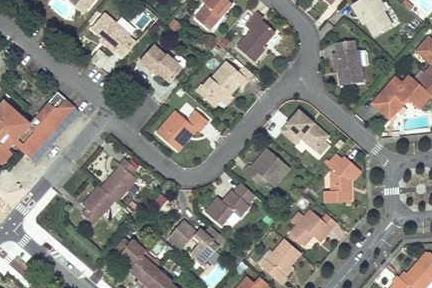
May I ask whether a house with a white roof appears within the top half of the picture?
Yes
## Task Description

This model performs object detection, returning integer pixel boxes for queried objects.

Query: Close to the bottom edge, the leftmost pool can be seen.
[204,264,225,288]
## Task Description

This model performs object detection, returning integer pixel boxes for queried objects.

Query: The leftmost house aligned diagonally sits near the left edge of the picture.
[18,100,76,162]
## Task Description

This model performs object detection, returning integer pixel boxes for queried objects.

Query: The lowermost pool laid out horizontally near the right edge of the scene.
[404,116,430,130]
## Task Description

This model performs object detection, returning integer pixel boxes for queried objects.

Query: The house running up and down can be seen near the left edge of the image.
[0,99,31,166]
